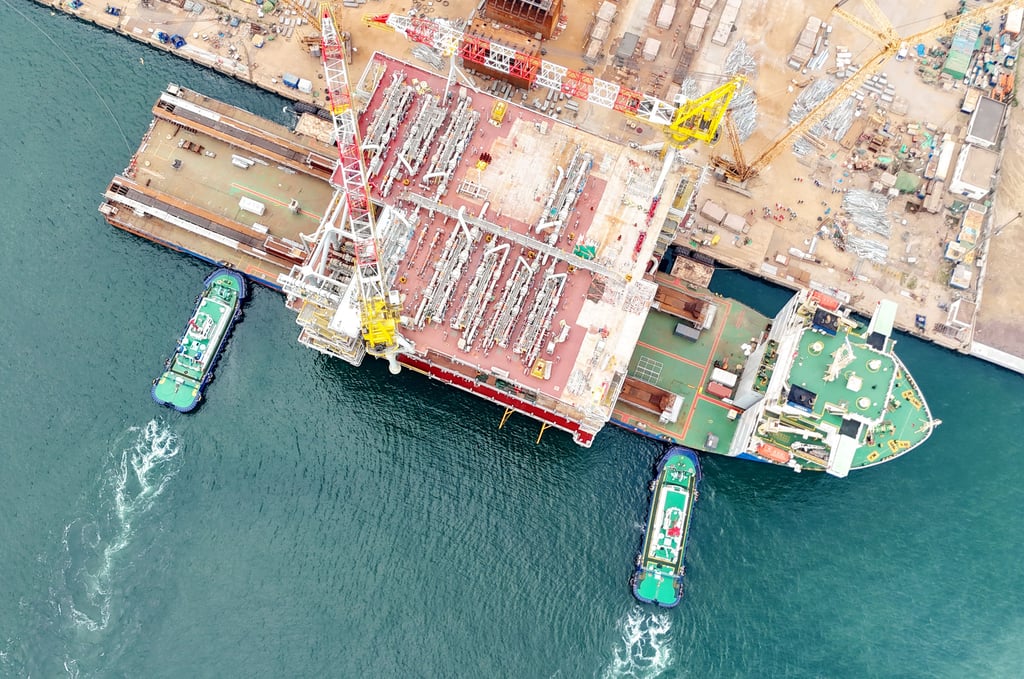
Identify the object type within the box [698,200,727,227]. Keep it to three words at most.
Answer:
building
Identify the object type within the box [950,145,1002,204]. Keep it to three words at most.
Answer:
building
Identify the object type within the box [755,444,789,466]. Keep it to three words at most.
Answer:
boat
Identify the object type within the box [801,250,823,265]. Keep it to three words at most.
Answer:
vehicle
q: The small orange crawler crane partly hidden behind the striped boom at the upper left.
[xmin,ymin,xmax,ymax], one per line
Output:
[275,0,351,65]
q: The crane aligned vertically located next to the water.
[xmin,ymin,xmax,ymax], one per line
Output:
[319,0,401,372]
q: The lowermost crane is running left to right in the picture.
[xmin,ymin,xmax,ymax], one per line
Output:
[761,418,823,441]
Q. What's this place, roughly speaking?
port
